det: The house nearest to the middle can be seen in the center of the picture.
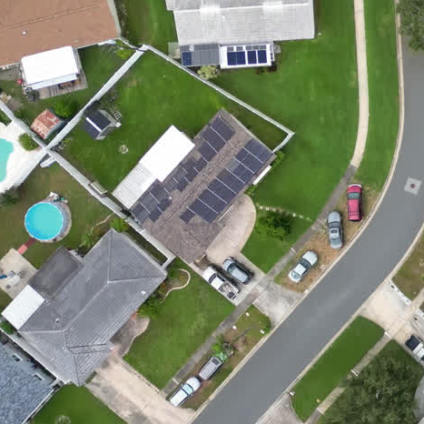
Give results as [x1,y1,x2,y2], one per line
[113,108,277,265]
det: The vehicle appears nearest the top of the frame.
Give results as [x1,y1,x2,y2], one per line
[344,184,363,222]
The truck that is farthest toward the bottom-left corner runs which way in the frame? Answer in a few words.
at an angle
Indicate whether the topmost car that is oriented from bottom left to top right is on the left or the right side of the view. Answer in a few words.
right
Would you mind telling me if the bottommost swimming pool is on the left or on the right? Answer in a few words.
left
